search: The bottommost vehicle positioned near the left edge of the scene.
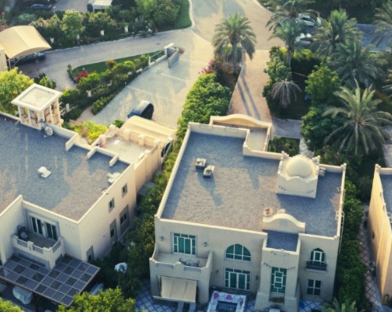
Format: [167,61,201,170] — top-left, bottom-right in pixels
[16,49,53,67]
